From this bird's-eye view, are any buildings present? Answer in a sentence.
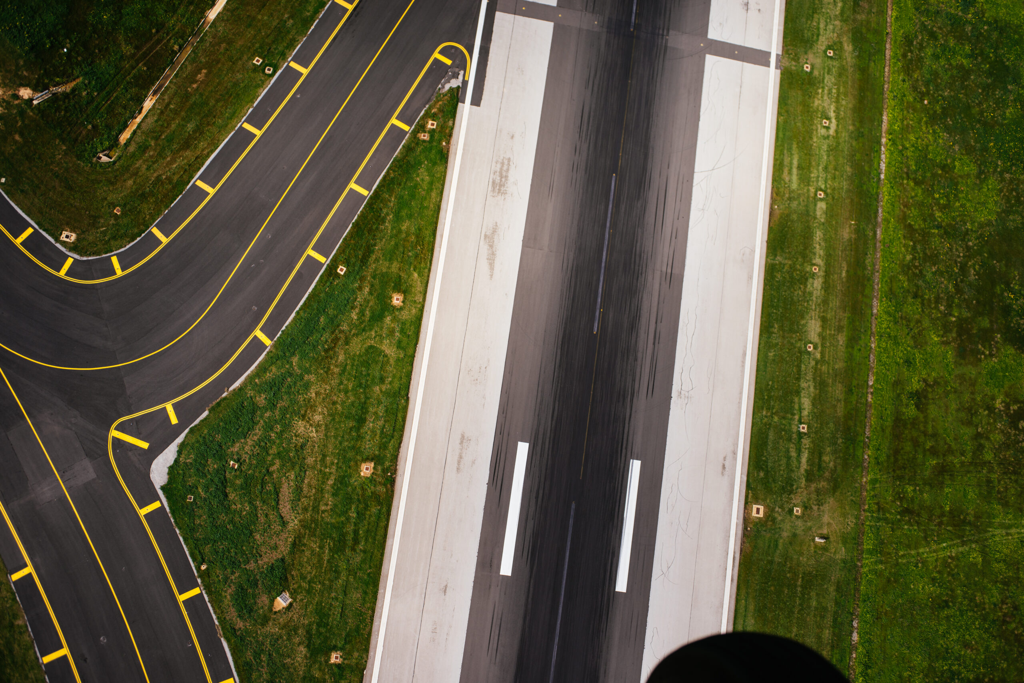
No, the scene contains no building.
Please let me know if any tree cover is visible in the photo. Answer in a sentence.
No, the scene doesn't show any tree cover.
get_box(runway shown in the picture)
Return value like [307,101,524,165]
[364,0,787,683]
